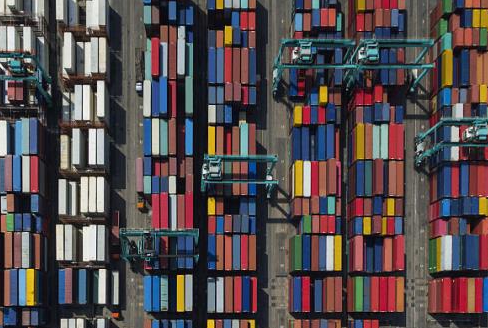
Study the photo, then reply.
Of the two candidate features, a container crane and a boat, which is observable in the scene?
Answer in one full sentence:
Of the two, only a container crane appears.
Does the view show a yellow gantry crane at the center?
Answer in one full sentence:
No, the scene shows no yellow gantry crane at the center.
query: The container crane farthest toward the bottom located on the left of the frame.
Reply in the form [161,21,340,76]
[119,230,204,267]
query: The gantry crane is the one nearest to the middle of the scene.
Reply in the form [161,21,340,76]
[201,153,280,200]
